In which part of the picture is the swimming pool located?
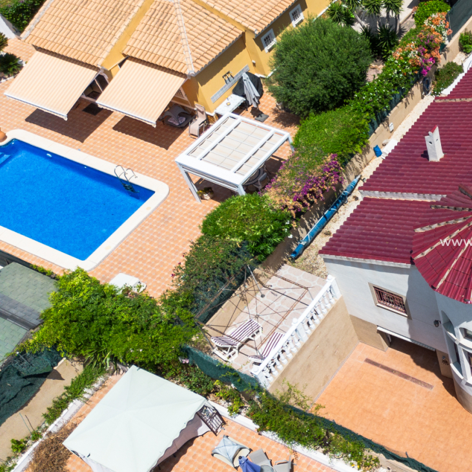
left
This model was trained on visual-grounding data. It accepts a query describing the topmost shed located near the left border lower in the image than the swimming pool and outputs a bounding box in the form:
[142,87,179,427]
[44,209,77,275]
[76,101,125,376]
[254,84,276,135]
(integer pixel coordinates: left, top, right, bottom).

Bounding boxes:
[0,263,59,344]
